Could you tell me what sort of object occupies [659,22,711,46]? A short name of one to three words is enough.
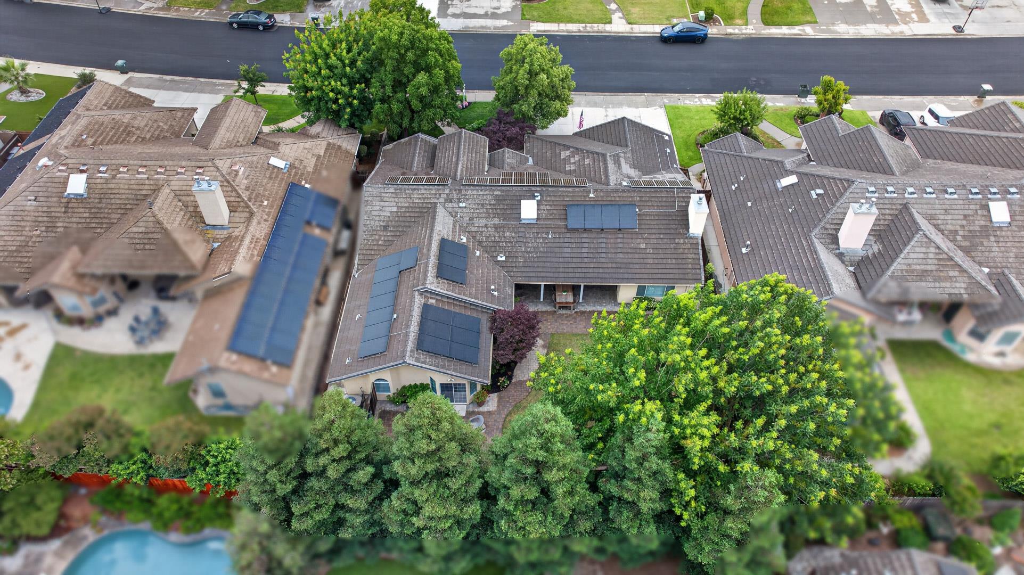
car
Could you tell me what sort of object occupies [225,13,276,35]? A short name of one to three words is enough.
car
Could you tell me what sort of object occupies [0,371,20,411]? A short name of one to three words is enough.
swimming pool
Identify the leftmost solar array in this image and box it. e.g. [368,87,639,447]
[232,183,337,364]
